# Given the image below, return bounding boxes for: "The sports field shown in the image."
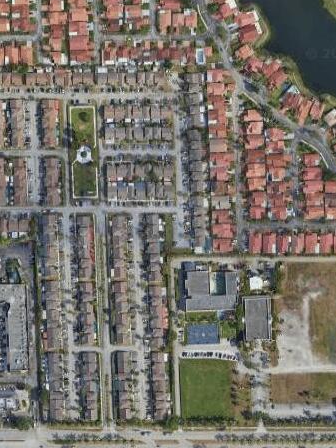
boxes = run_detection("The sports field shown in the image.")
[180,360,231,420]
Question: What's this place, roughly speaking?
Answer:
residential area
